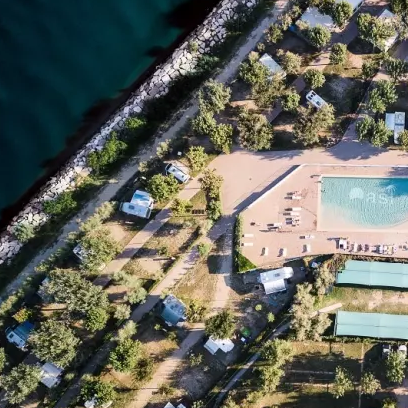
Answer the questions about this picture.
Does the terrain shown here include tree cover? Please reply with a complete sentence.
Yes, some tree cover is visible.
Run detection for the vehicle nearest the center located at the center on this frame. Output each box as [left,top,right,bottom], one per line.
[166,160,194,185]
